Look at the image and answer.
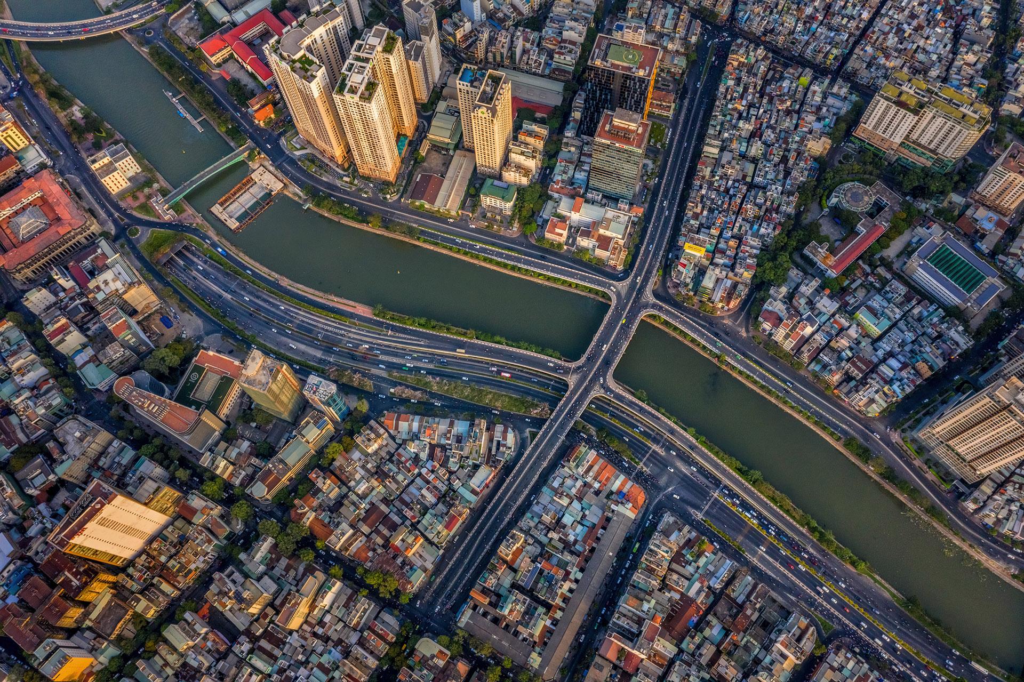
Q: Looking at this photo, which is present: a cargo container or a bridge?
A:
bridge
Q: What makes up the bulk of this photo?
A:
buildings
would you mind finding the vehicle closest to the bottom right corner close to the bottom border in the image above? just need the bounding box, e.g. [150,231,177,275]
[968,659,997,678]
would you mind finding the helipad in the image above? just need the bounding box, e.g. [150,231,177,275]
[607,44,642,67]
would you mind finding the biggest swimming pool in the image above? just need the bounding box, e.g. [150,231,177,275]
[396,132,411,166]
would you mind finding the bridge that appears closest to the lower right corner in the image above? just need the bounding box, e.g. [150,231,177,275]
[372,95,845,612]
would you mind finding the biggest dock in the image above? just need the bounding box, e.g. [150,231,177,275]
[161,89,205,133]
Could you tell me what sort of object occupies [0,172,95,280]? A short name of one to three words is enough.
building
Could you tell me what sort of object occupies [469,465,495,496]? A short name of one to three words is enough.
house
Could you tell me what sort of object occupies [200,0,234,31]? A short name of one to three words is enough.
shed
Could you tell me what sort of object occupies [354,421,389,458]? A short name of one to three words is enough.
house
